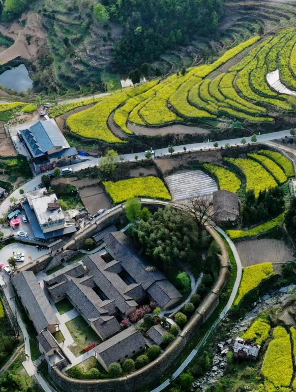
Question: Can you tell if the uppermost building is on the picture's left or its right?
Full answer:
The uppermost building sits on the left side.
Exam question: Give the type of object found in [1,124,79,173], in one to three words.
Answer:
building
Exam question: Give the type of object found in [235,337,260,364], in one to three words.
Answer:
shed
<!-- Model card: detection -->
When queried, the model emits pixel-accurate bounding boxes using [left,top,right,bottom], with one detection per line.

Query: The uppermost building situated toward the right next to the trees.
[212,184,242,223]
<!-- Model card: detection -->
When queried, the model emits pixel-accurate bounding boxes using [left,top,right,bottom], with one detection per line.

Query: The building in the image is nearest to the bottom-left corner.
[24,324,68,371]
